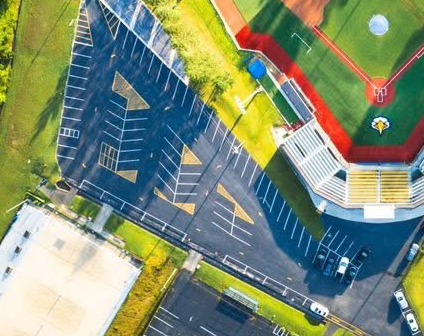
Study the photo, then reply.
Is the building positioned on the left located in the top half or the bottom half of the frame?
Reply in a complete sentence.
Seen from above, the building positioned on the left lies in the bottom half of the view.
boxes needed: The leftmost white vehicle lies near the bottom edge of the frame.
[309,303,329,320]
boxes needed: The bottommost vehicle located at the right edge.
[407,313,421,333]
